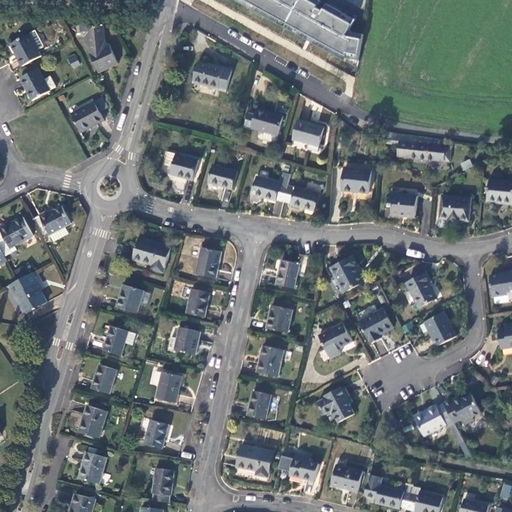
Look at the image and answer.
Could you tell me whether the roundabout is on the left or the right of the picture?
left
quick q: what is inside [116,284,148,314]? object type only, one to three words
house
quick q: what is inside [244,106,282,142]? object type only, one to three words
house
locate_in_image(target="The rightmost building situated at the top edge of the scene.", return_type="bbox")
[242,0,364,62]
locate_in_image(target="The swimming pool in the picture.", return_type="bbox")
[268,392,282,422]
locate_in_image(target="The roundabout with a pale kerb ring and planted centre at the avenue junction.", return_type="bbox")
[84,162,136,214]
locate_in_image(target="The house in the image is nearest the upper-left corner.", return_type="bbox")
[10,30,43,65]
